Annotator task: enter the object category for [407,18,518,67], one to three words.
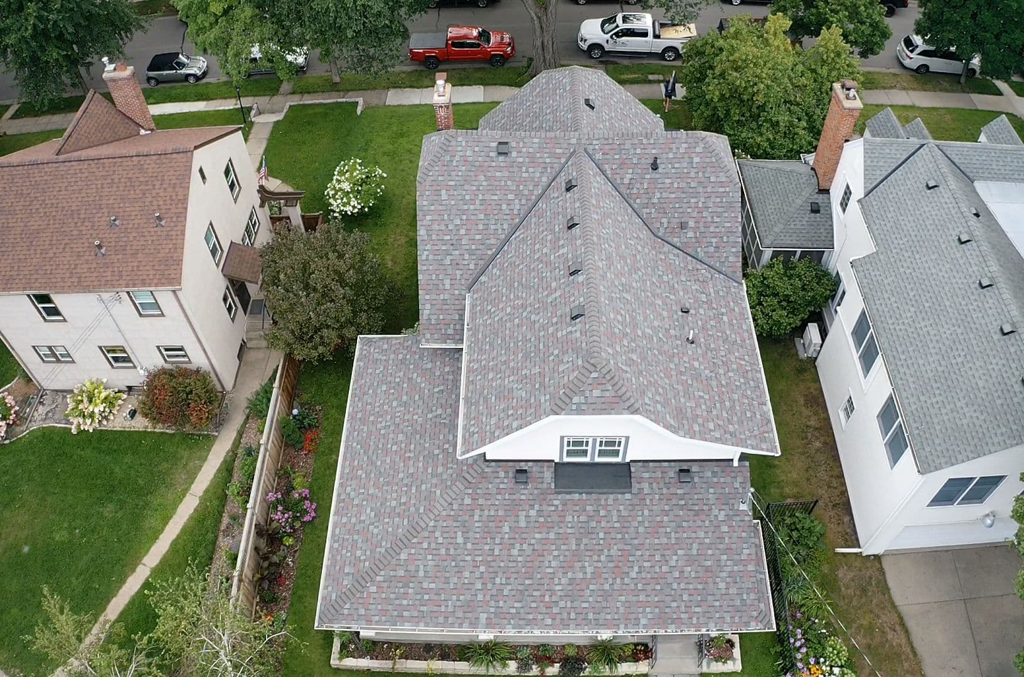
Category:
truck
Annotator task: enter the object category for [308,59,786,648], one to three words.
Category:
house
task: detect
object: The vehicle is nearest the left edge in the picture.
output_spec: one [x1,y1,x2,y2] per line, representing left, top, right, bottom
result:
[139,51,205,85]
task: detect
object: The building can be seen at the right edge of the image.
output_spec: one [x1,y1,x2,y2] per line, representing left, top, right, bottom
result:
[739,71,1024,555]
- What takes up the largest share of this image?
buildings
